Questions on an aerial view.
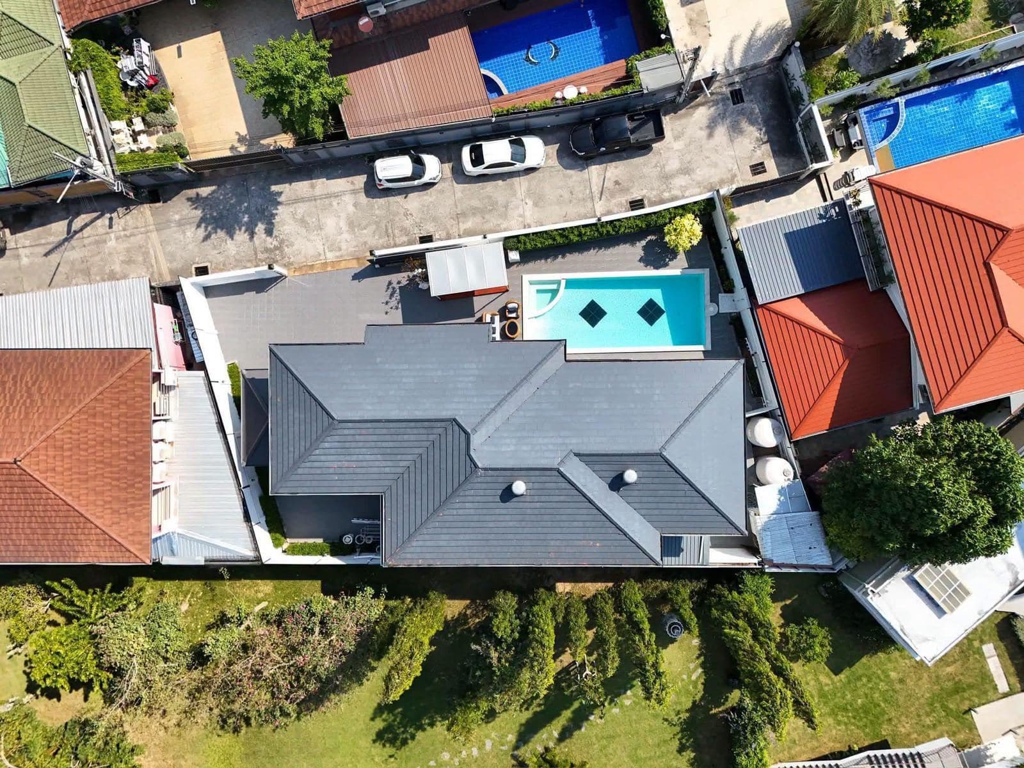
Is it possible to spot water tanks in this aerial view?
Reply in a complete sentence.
Yes, the photo shows a water tank.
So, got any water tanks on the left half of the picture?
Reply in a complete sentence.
No, there is no water tank on the left half of the picture.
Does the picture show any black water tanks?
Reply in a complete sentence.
No, the picture doesn't show any black water tank.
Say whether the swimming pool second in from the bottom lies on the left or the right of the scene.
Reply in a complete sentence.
The swimming pool second in from the bottom is on the right side of the image.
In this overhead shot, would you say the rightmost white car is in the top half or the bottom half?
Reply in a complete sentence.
You can find the rightmost white car in the top half.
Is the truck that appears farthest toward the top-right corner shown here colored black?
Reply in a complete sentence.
Yes, the truck that appears farthest toward the top-right corner appears black.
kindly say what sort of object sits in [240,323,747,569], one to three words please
house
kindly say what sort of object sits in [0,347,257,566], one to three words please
house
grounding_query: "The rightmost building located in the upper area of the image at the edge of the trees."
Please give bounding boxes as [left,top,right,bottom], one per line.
[836,135,1024,414]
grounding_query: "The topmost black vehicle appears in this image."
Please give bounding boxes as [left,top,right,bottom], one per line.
[569,111,665,158]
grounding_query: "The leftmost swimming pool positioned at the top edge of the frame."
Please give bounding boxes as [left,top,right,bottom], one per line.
[473,0,647,102]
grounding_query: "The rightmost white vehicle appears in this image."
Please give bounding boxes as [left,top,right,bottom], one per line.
[461,134,544,179]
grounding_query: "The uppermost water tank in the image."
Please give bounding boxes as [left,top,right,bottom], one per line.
[747,416,774,447]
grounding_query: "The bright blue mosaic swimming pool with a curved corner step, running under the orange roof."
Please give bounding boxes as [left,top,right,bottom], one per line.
[857,55,1024,175]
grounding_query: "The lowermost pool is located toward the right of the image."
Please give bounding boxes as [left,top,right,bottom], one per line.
[523,268,711,353]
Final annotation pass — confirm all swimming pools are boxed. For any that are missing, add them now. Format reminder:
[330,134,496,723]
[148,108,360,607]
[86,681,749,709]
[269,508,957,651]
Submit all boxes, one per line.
[473,0,647,102]
[857,55,1024,175]
[523,268,711,353]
